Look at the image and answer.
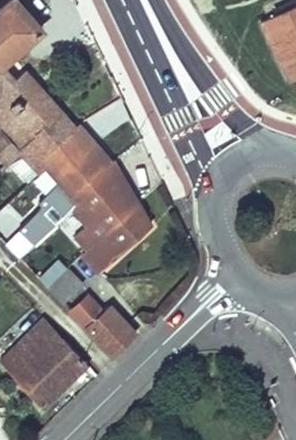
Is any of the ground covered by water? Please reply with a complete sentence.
No, there is no water in the image.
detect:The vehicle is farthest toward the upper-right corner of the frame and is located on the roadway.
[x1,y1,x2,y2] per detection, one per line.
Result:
[162,70,178,91]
